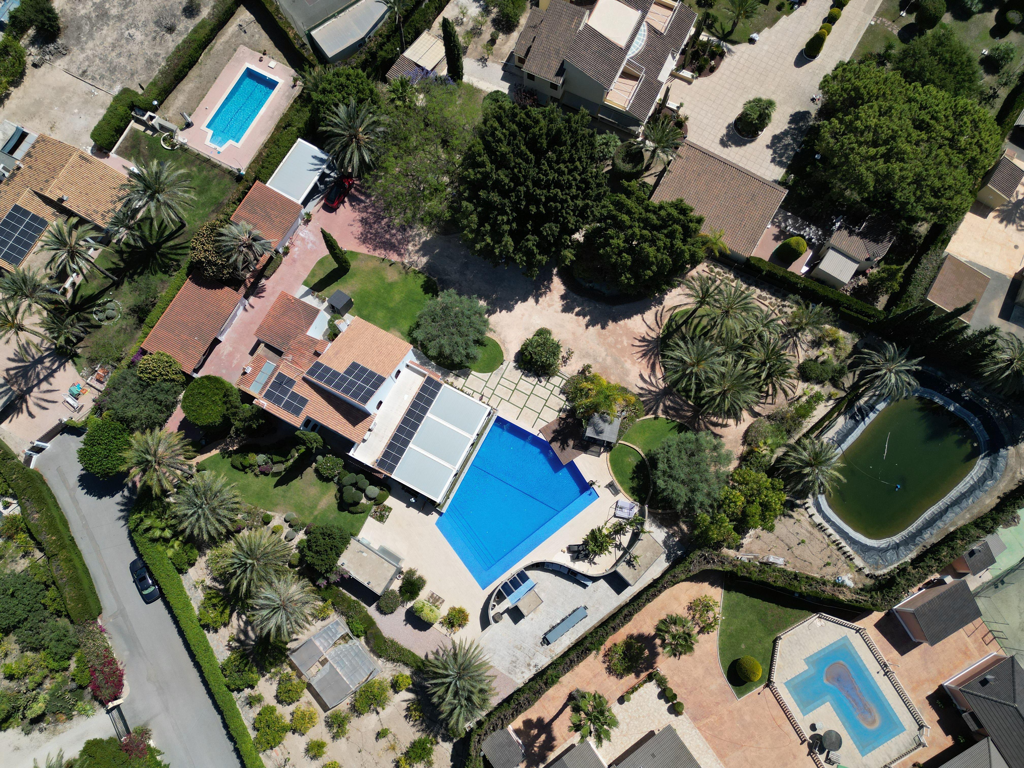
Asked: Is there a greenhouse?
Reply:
Yes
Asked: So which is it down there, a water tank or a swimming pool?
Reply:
swimming pool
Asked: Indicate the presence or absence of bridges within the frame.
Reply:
No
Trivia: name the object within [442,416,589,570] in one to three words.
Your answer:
swimming pool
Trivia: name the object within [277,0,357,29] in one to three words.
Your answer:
tennis court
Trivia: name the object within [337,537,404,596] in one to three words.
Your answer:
building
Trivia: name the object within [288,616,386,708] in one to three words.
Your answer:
greenhouse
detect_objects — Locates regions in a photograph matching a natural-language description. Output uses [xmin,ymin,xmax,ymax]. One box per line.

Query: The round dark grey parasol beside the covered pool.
[820,727,843,753]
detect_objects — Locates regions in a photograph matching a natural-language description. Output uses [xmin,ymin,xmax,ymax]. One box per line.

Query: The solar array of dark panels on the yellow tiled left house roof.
[0,204,47,265]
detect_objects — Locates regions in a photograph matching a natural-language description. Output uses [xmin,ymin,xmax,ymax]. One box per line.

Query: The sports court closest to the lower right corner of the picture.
[972,510,1024,664]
